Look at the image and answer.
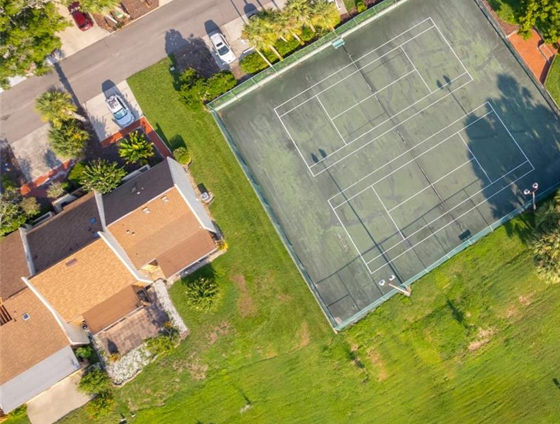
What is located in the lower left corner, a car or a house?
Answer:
house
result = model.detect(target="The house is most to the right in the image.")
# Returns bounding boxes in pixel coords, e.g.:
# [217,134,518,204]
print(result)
[100,153,230,279]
